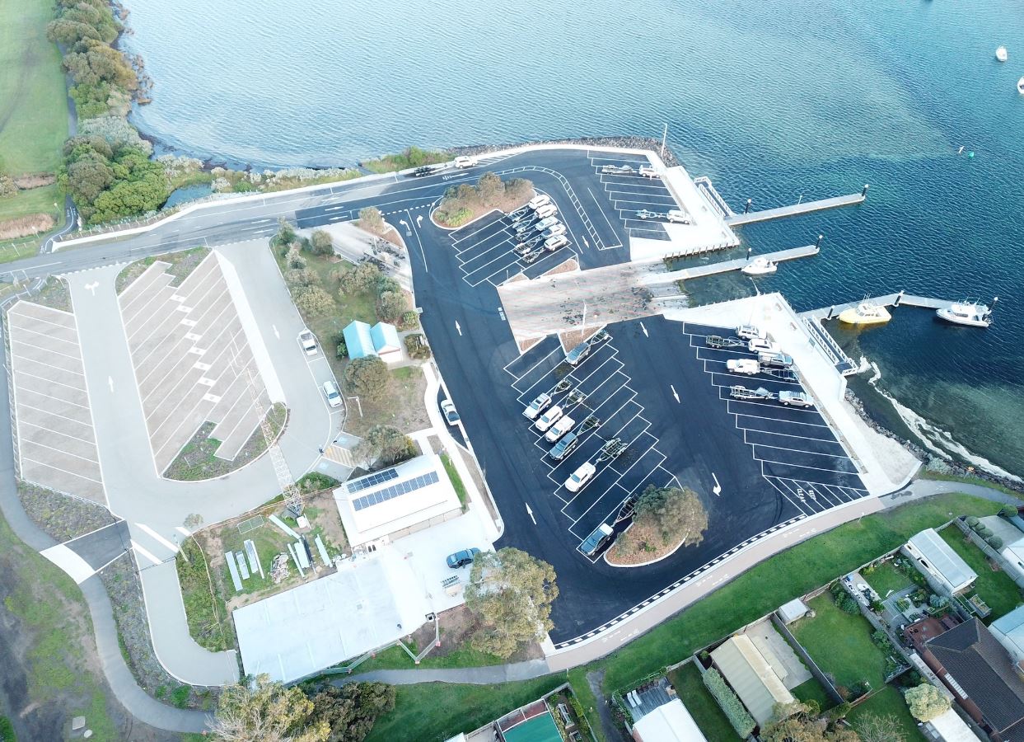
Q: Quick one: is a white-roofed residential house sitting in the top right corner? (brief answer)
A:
No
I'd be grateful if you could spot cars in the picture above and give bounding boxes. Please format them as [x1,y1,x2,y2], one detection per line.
[778,392,813,409]
[545,416,575,444]
[441,401,460,427]
[733,324,764,339]
[324,385,342,406]
[566,342,592,366]
[636,166,661,179]
[300,331,318,356]
[446,549,483,570]
[726,360,759,377]
[756,351,789,368]
[535,405,563,432]
[524,394,551,420]
[541,225,566,241]
[543,236,567,252]
[549,434,578,462]
[665,211,690,225]
[534,217,559,232]
[528,196,551,211]
[566,462,595,492]
[454,157,477,170]
[581,523,613,557]
[749,338,779,353]
[534,206,557,220]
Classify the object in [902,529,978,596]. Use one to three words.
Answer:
shed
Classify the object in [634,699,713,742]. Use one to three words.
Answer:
house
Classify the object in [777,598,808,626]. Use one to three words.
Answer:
shed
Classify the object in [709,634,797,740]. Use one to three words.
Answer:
house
